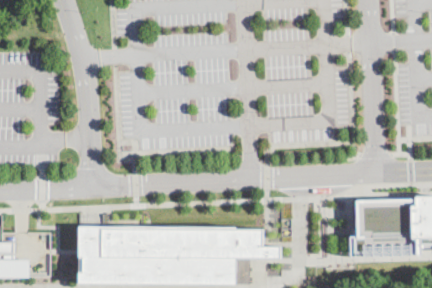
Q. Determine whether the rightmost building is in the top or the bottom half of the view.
bottom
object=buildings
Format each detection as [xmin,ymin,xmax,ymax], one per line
[349,196,432,257]
[77,226,282,286]
[0,237,30,280]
